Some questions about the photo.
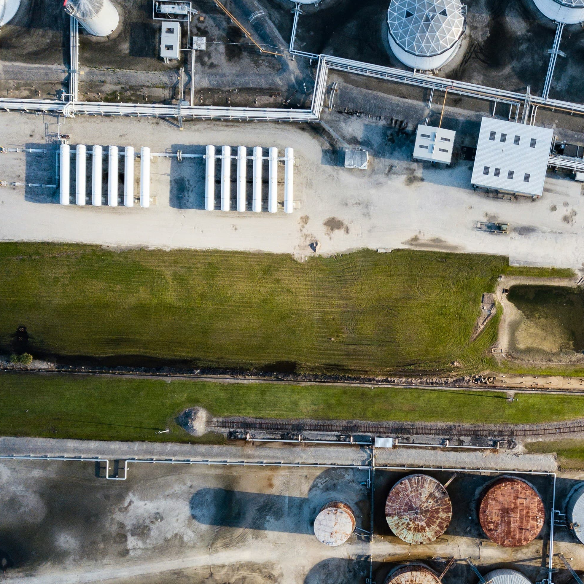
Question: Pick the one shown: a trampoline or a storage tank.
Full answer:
Of the two, only a storage tank appears.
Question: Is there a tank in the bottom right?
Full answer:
Yes, there is a tank in the bottom right.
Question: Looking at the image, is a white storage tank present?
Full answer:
Yes, there's a white storage tank here.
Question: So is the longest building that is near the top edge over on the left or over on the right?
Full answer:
The longest building that is near the top edge appears in the left half of the scene.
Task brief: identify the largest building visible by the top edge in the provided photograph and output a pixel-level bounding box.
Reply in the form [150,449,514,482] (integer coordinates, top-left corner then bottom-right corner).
[160,21,182,63]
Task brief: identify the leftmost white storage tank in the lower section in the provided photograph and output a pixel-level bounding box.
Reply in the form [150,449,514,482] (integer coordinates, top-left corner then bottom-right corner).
[313,498,369,548]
